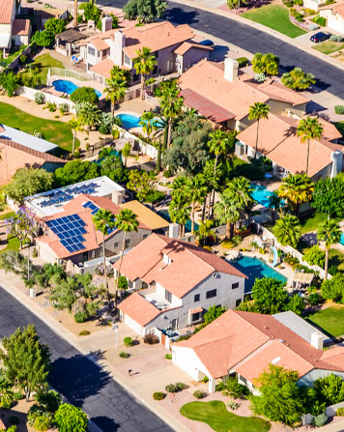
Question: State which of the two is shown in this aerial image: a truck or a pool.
pool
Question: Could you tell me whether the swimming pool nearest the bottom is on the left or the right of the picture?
right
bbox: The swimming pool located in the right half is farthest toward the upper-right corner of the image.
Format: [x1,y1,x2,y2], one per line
[245,179,287,208]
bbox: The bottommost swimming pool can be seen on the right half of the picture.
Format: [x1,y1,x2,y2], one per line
[233,254,290,288]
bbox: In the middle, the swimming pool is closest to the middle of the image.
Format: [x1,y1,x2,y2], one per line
[153,207,204,232]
